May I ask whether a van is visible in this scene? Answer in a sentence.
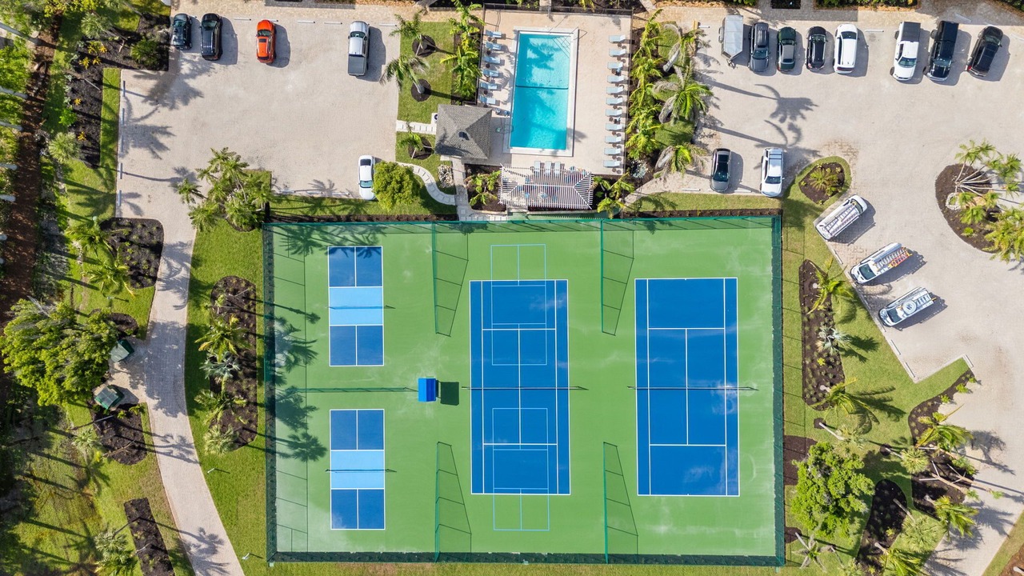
Yes, a van can be made out from above.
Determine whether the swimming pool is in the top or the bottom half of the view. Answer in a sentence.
You can find the swimming pool in the top half.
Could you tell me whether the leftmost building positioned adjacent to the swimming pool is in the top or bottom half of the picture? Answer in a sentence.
It is in the top half that the leftmost building positioned adjacent to the swimming pool appears.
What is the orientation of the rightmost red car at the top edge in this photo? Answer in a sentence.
In this picture, the rightmost red car at the top edge is oriented from top to bottom.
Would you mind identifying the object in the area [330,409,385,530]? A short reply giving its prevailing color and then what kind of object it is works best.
blue sports court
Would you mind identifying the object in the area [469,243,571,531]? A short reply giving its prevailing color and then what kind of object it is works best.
blue tennis court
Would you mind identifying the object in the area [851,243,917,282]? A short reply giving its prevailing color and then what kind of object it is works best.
white van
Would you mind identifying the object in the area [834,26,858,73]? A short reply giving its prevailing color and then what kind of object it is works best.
white car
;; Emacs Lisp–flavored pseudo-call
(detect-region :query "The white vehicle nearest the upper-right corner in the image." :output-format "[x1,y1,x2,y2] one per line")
[890,21,920,82]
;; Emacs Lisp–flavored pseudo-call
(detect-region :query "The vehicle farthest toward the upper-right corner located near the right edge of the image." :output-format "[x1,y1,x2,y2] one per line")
[967,27,1000,76]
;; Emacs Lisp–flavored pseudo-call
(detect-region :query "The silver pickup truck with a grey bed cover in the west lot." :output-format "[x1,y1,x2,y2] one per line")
[348,21,370,77]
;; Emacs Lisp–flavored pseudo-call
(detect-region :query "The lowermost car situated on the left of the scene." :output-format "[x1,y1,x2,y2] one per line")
[356,156,377,200]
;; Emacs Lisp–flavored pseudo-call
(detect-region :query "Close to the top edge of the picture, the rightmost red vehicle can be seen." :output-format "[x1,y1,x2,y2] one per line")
[254,20,277,64]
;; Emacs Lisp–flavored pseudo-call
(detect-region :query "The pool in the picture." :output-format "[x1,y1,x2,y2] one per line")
[505,27,580,156]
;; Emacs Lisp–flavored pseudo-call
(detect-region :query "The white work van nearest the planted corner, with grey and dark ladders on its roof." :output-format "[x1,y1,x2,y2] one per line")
[815,197,865,240]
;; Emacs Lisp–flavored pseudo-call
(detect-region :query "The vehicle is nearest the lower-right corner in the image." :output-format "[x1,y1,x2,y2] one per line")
[878,287,941,325]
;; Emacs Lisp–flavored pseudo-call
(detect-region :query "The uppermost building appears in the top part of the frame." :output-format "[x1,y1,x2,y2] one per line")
[435,104,492,159]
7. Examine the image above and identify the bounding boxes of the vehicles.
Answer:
[815,197,865,240]
[171,13,194,52]
[254,20,277,64]
[851,243,917,282]
[761,149,784,196]
[834,26,858,73]
[775,27,798,73]
[356,156,377,200]
[200,14,224,61]
[710,148,732,193]
[925,21,957,85]
[967,27,1000,76]
[878,287,941,325]
[748,22,771,72]
[804,27,828,72]
[890,21,920,82]
[348,21,370,77]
